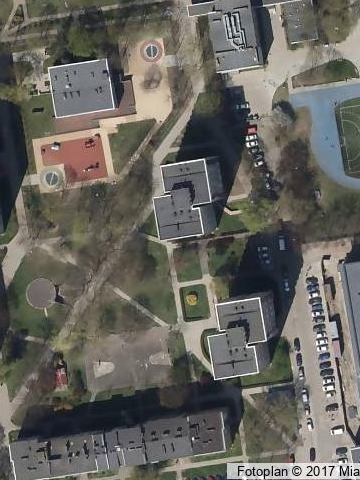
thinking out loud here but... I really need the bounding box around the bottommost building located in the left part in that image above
[10,409,232,480]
